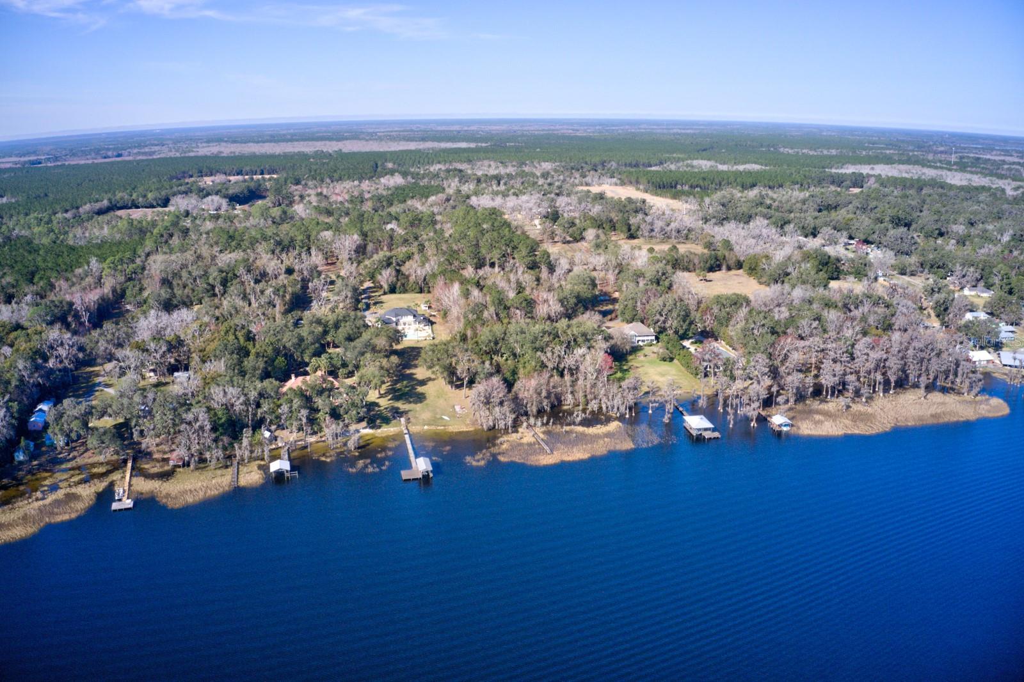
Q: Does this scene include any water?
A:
Yes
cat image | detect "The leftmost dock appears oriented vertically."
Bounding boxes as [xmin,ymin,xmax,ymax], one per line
[106,454,135,513]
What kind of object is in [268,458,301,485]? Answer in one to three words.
building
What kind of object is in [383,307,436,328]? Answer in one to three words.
building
